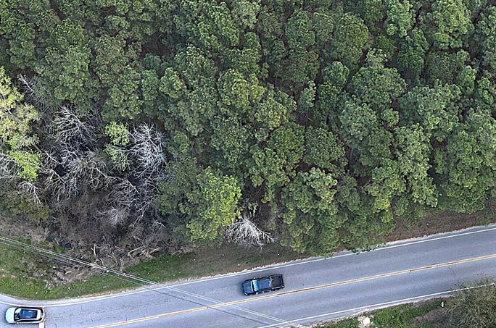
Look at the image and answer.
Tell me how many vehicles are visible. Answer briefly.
2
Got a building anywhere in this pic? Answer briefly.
No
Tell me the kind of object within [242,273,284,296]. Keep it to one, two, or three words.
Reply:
truck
